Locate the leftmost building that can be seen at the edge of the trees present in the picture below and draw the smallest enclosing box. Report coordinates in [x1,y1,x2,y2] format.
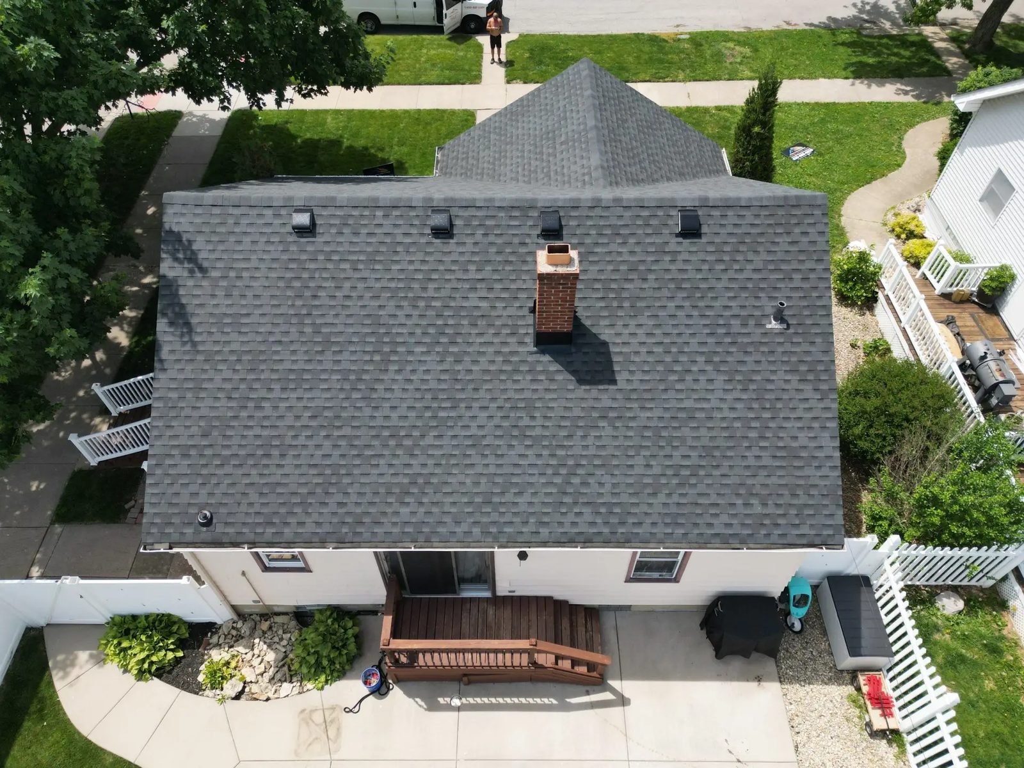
[141,58,846,628]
